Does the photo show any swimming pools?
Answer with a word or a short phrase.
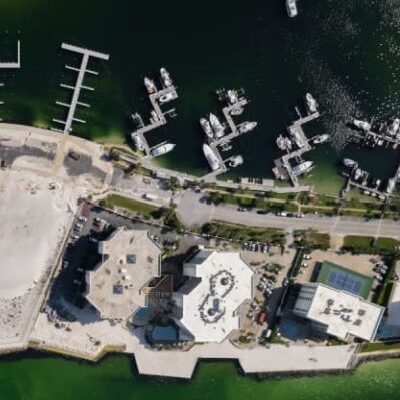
Yes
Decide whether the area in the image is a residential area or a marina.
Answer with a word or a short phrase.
marina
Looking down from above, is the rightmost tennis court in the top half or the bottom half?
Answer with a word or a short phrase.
bottom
